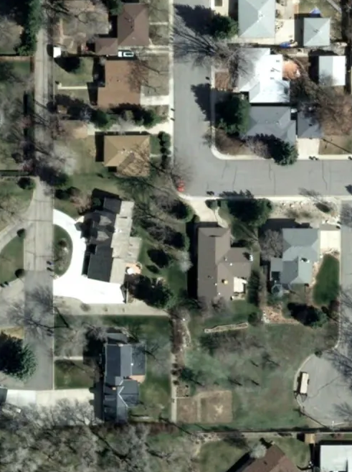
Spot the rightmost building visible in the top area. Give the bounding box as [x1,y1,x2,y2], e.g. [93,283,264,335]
[319,55,346,84]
